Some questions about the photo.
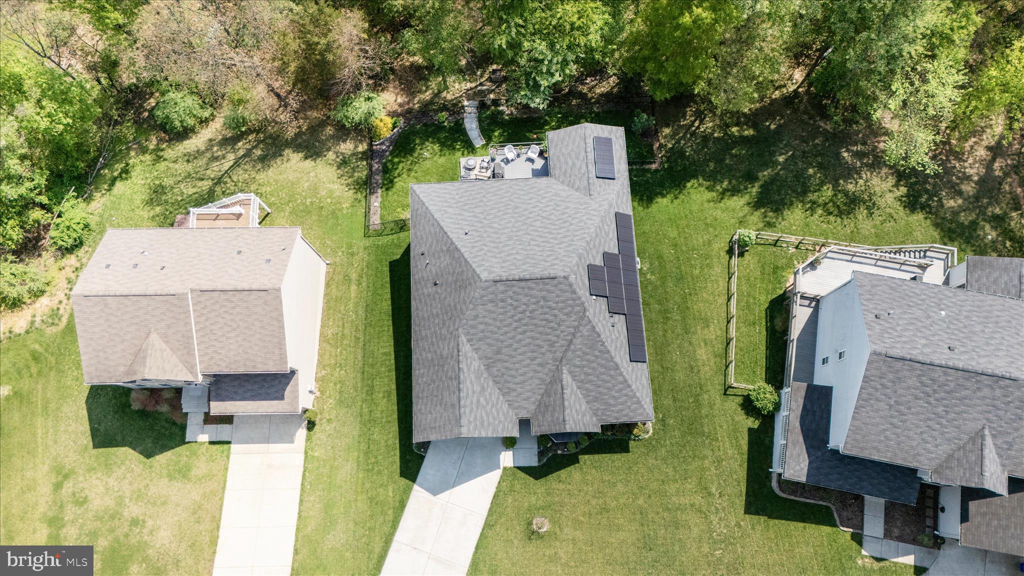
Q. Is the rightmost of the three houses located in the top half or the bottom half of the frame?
bottom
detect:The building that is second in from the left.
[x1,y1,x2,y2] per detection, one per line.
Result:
[409,123,656,442]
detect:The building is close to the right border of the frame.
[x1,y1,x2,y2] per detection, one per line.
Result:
[768,256,1024,557]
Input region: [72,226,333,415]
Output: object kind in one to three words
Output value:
house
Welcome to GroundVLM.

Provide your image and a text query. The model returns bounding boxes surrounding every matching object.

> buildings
[768,256,1024,557]
[72,226,333,415]
[409,123,656,442]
